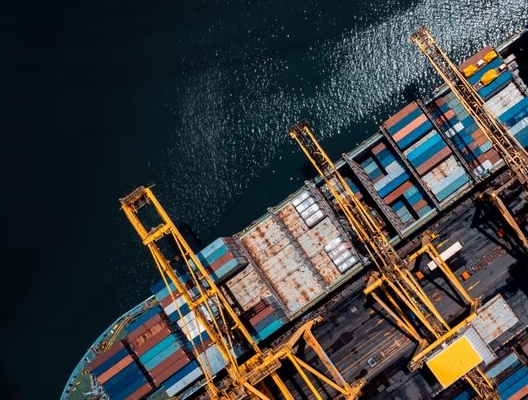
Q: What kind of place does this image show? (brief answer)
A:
port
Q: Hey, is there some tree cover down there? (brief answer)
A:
No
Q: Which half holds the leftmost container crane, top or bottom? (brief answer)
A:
bottom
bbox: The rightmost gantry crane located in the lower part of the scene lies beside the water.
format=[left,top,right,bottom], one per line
[285,121,506,400]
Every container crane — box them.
[117,181,364,400]
[285,121,506,400]
[407,24,528,260]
